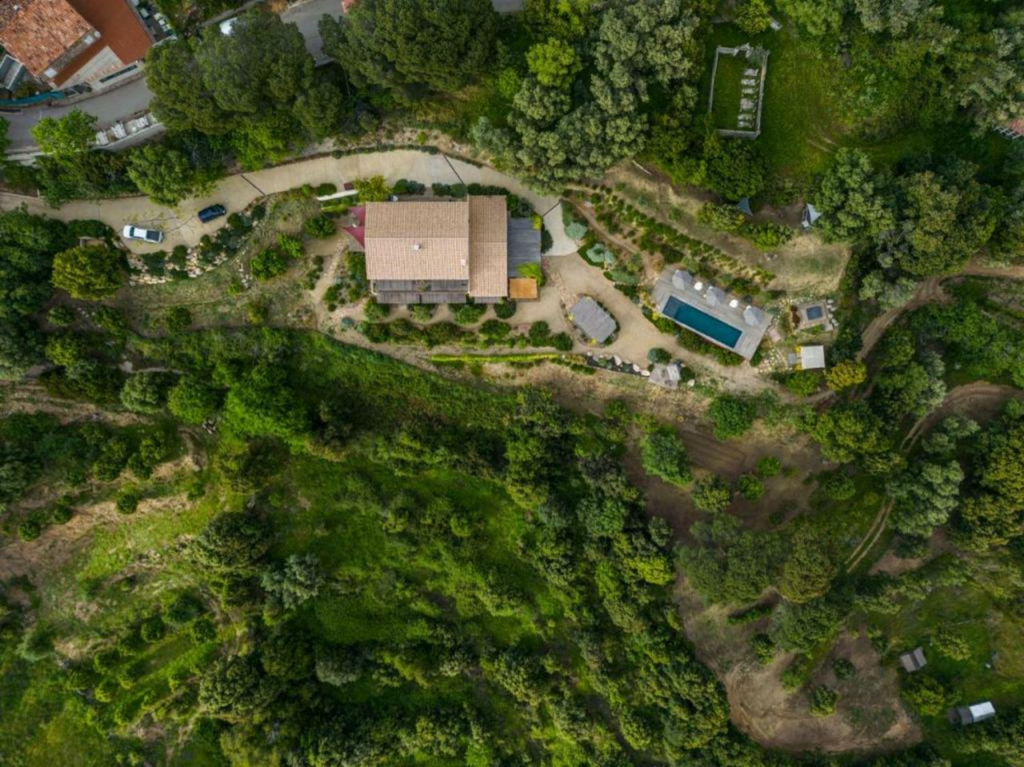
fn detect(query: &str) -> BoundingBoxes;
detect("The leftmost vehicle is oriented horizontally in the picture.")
[120,222,162,242]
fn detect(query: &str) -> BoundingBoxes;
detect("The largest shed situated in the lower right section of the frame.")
[895,644,926,672]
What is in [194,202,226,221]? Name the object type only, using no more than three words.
car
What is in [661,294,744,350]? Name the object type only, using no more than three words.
swimming pool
